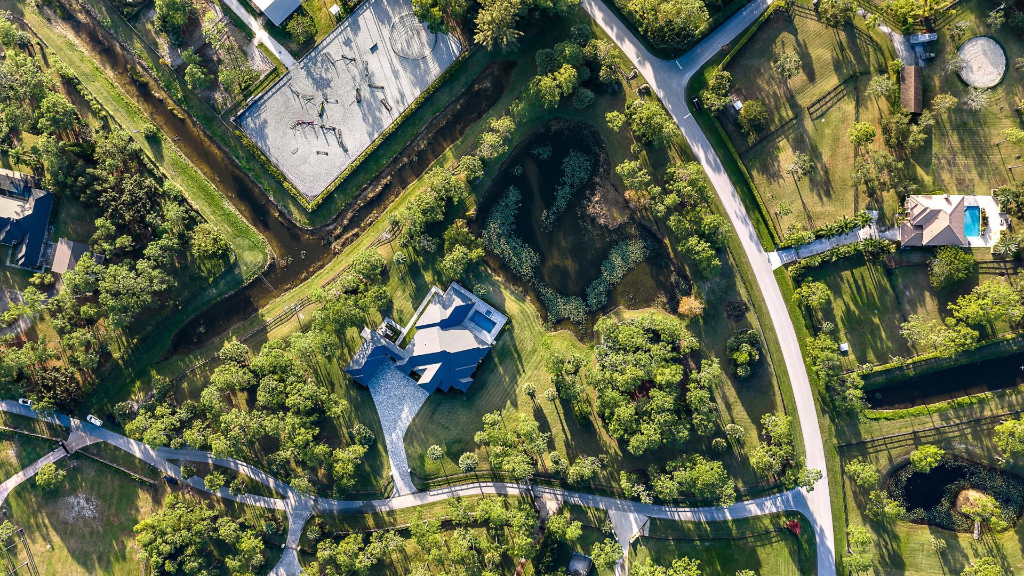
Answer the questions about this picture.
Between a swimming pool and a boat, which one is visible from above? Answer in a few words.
swimming pool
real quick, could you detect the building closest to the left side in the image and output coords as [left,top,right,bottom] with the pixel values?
[0,188,59,267]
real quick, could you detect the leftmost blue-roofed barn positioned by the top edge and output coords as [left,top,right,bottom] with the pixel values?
[254,0,304,28]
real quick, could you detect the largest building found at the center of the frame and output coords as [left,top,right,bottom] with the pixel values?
[344,287,491,398]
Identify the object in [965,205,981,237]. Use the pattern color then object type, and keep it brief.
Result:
blue swimming pool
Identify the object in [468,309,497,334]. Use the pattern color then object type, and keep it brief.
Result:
blue swimming pool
